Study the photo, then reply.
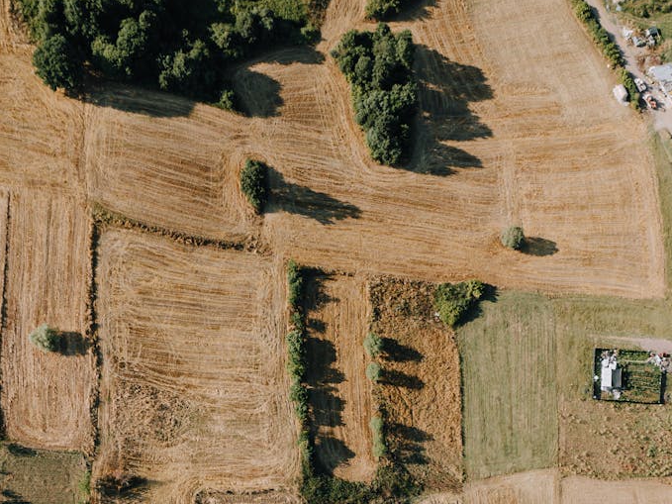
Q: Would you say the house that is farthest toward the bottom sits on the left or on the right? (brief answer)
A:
right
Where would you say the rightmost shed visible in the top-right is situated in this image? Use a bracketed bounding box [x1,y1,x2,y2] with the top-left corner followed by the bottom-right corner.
[653,58,672,87]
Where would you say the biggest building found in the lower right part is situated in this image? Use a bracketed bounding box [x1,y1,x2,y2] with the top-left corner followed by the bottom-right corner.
[604,362,624,387]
